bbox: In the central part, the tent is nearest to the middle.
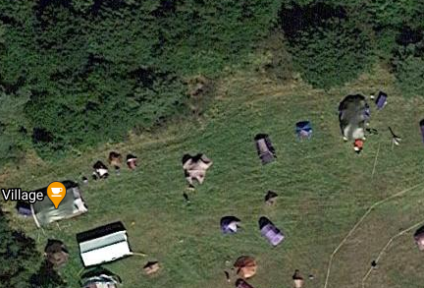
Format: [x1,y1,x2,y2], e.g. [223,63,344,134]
[181,155,212,183]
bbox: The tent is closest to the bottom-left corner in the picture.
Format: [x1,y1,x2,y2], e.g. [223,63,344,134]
[42,243,68,265]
